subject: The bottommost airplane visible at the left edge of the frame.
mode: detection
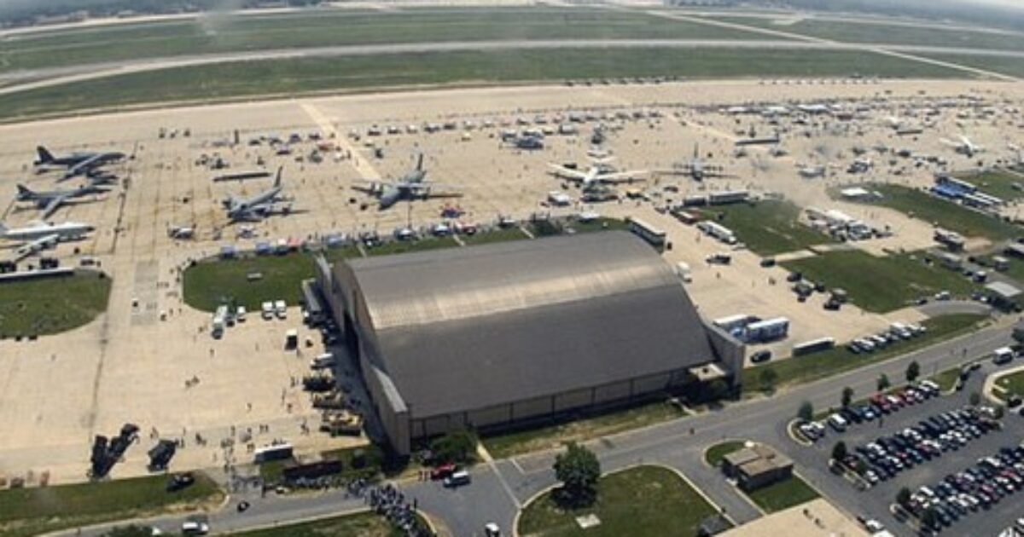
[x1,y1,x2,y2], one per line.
[0,213,105,248]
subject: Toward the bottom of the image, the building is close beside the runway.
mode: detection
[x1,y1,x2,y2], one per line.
[313,231,748,457]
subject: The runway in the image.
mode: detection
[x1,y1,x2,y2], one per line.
[0,39,1024,82]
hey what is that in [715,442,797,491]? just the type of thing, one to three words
building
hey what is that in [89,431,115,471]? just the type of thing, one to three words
truck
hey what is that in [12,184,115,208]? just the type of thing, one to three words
airplane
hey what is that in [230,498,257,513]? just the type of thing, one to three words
car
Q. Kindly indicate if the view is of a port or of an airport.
airport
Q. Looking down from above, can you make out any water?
No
